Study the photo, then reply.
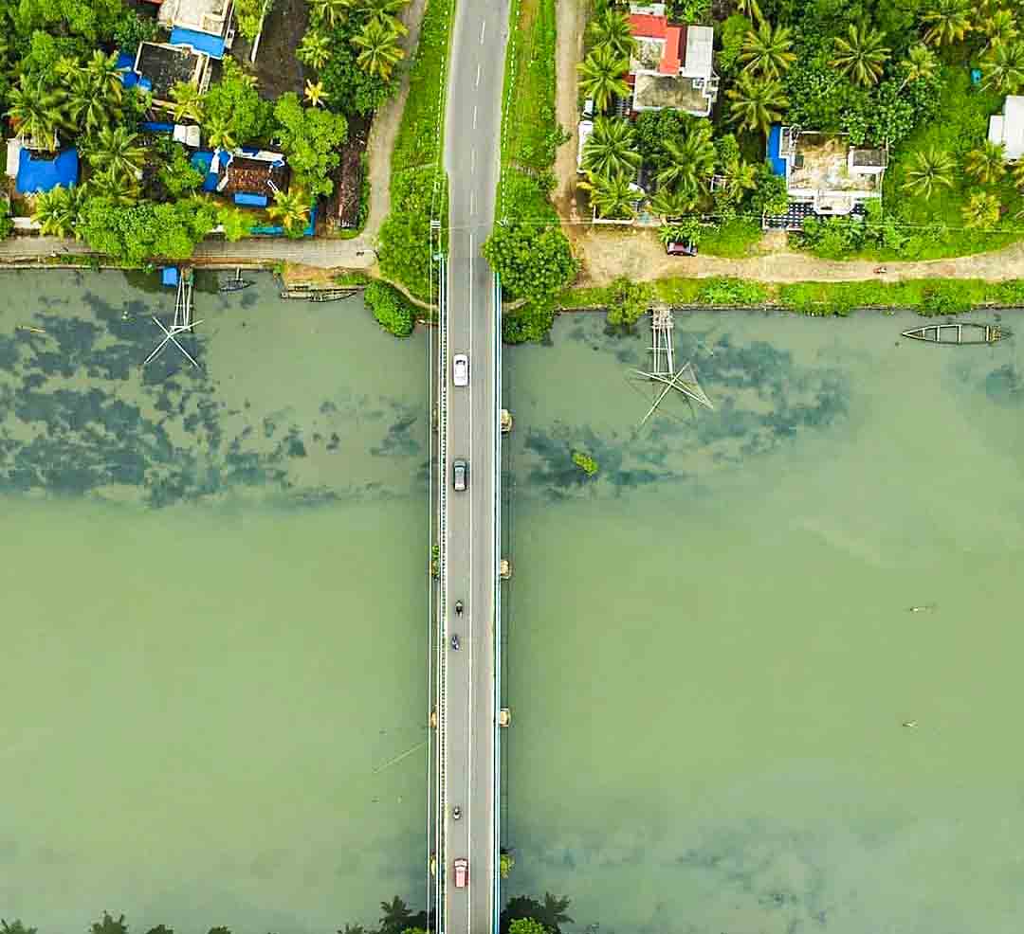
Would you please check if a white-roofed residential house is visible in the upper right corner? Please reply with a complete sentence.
Yes, there is a white-roofed residential house in the upper right corner.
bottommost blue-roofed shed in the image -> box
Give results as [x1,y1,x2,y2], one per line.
[161,266,183,287]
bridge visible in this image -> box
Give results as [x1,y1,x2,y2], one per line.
[436,248,512,934]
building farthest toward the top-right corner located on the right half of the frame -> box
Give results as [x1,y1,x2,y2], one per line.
[982,95,1024,163]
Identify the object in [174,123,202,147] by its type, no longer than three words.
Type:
shed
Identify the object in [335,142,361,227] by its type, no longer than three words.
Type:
shed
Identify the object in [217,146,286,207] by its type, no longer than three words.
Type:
house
